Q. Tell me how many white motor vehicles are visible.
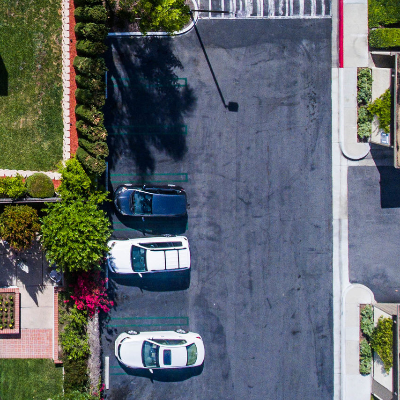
2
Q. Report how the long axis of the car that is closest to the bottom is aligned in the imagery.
from left to right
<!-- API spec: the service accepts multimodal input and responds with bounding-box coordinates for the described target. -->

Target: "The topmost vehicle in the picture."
[110,184,189,225]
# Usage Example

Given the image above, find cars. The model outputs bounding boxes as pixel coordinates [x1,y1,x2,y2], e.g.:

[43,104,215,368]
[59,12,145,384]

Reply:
[110,184,189,225]
[104,235,193,280]
[112,329,205,377]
